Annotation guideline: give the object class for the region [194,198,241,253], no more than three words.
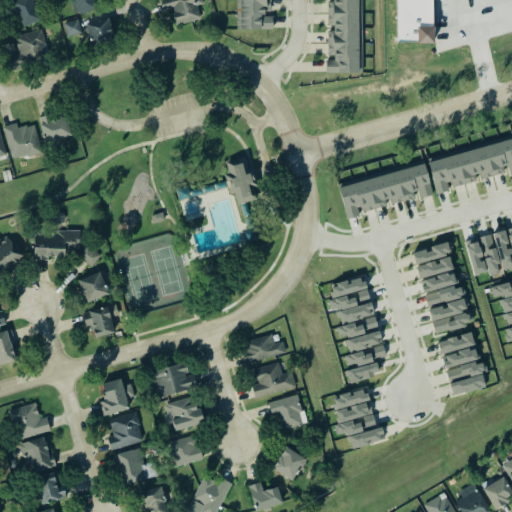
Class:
swimming pool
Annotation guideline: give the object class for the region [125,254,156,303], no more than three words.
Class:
tennis court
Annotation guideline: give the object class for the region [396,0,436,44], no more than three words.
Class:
building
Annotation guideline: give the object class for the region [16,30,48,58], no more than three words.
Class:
house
